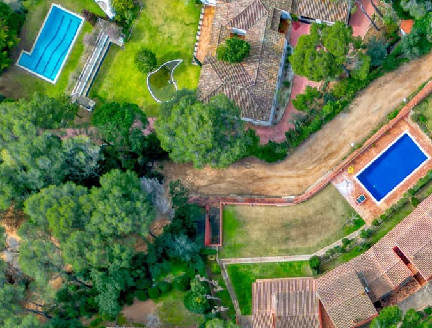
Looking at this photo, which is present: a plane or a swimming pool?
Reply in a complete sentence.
There is a swimming pool in the scene.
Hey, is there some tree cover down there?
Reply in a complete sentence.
Yes, some tree cover is visible.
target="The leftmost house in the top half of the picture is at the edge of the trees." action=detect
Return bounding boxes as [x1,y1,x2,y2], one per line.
[194,0,352,127]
